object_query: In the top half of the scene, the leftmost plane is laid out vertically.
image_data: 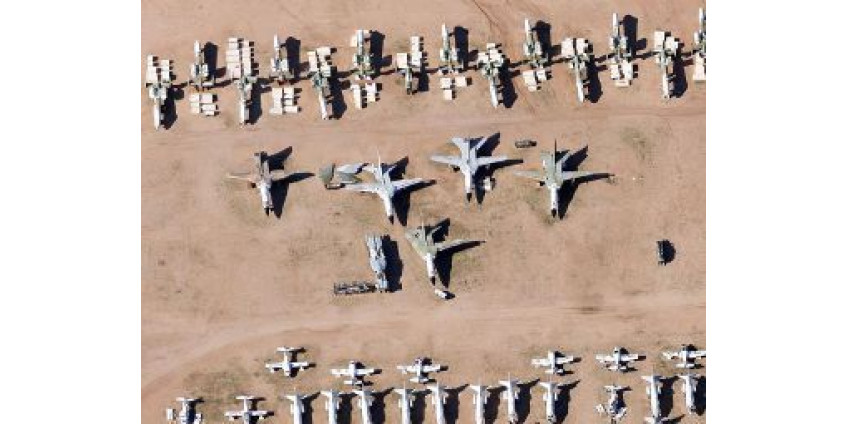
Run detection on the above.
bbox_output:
[143,74,167,130]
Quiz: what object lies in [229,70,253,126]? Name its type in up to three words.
airplane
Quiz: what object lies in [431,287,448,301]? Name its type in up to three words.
vehicle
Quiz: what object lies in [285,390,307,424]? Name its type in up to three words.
airplane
